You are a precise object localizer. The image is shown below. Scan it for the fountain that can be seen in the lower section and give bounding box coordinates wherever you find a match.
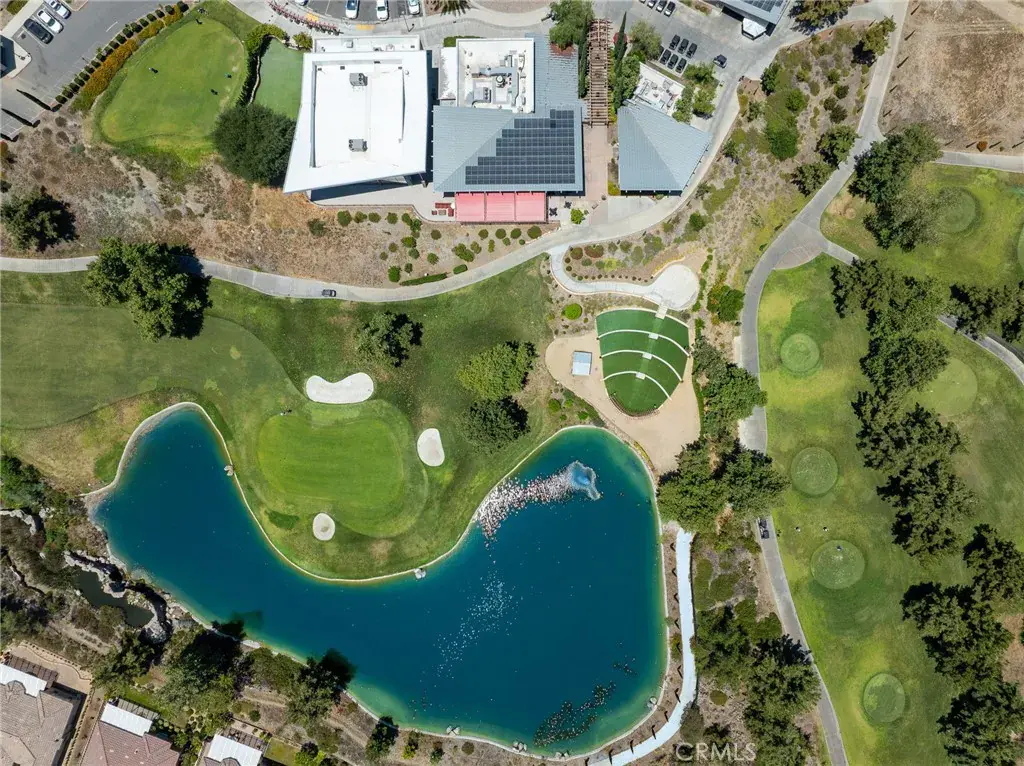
[561,456,601,502]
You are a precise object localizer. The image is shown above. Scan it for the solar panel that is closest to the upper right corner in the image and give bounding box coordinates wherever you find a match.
[738,0,779,22]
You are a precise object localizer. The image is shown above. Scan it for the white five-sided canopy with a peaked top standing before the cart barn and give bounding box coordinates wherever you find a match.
[732,18,766,54]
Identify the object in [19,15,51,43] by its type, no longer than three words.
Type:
car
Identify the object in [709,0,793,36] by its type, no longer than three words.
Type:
building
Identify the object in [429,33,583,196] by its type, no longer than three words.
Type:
building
